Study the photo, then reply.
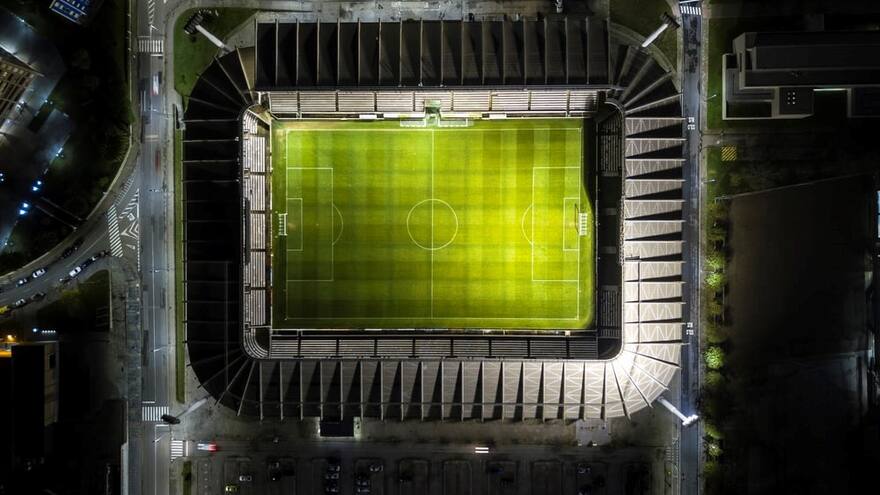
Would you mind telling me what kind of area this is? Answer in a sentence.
The area seen from above is a sports ground.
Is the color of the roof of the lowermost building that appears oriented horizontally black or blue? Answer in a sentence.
The roof of the lowermost building that appears oriented horizontally looks black in the image.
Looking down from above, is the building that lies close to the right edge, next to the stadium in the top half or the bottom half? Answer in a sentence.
It is in the top half that the building that lies close to the right edge, next to the stadium appears.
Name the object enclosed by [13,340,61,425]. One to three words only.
building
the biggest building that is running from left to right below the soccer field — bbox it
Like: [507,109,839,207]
[319,418,361,437]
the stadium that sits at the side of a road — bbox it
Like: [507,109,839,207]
[180,18,688,422]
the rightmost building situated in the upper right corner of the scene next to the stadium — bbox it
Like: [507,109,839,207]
[720,33,880,120]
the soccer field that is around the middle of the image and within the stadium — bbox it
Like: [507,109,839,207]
[272,119,596,331]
